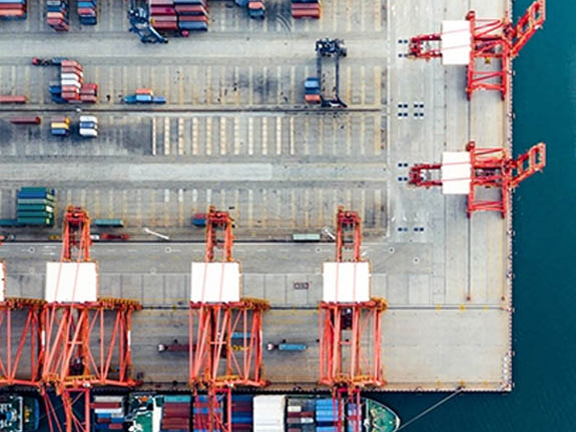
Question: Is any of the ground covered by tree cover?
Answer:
No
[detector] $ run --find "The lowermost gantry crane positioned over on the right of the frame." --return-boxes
[317,201,391,432]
